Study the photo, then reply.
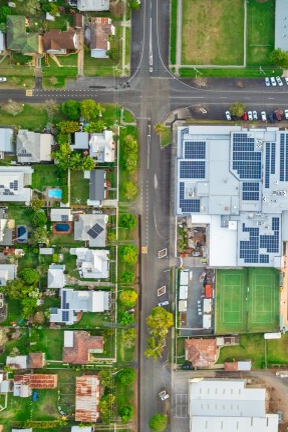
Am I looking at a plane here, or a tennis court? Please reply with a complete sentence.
The one in the frame is a tennis court.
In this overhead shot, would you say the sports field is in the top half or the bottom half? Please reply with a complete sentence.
You can find the sports field in the top half.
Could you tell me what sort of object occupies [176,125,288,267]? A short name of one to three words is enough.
building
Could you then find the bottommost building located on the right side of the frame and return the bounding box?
[187,376,288,432]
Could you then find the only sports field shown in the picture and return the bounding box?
[182,0,243,63]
